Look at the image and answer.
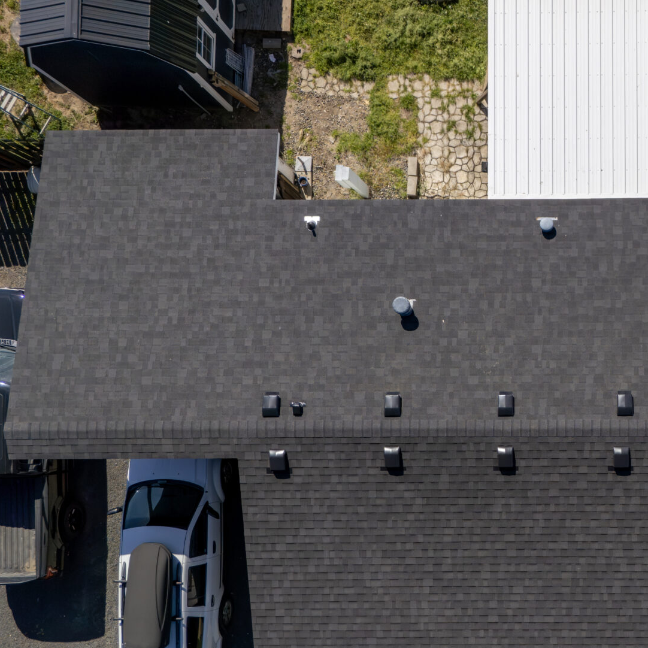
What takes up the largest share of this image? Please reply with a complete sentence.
Most of the picture is covered by buildings.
